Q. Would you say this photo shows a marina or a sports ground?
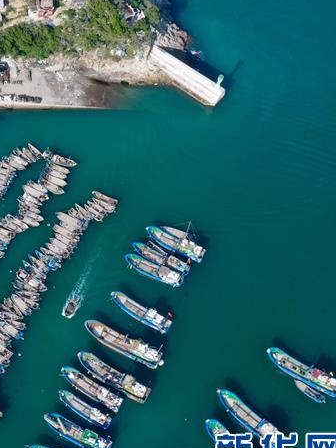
marina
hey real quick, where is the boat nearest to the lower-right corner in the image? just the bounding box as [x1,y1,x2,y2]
[295,380,327,404]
